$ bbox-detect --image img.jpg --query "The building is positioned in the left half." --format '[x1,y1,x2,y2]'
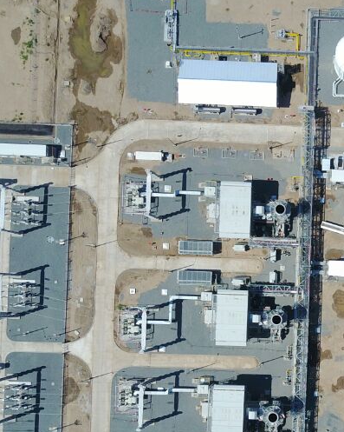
[0,141,54,162]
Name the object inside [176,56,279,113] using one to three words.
building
